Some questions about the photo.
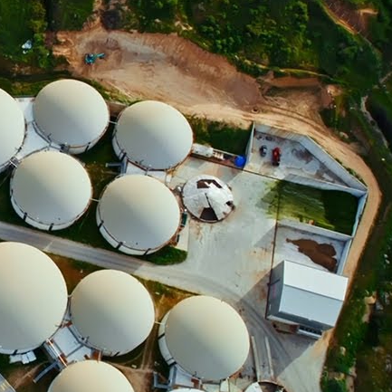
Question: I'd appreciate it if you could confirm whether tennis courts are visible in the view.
No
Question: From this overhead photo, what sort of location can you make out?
industrial area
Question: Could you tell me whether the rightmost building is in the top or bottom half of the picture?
bottom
